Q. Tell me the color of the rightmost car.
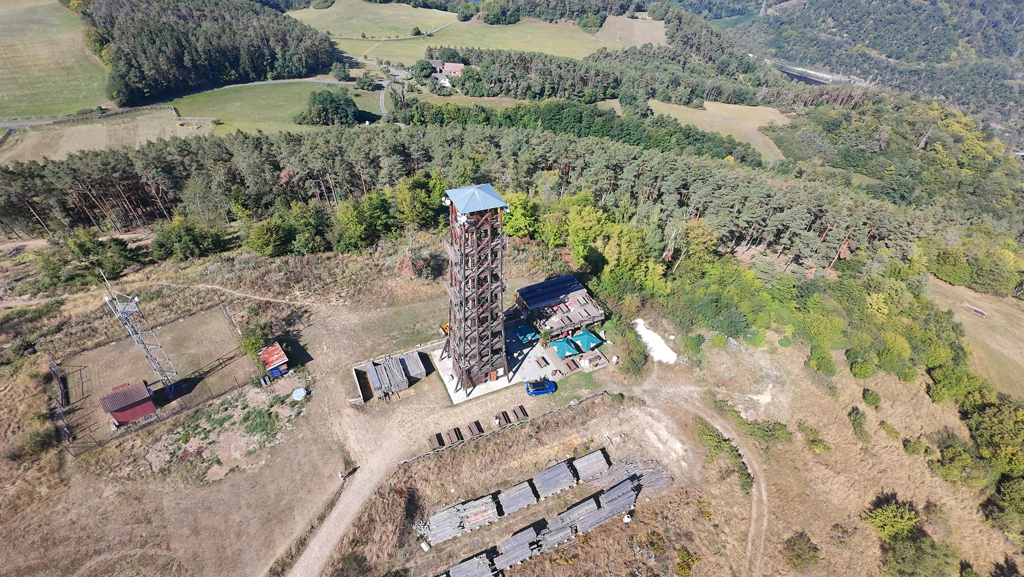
blue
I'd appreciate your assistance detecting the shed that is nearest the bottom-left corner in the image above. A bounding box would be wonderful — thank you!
[100,381,156,434]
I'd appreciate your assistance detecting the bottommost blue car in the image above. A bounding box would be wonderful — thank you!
[524,375,555,397]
